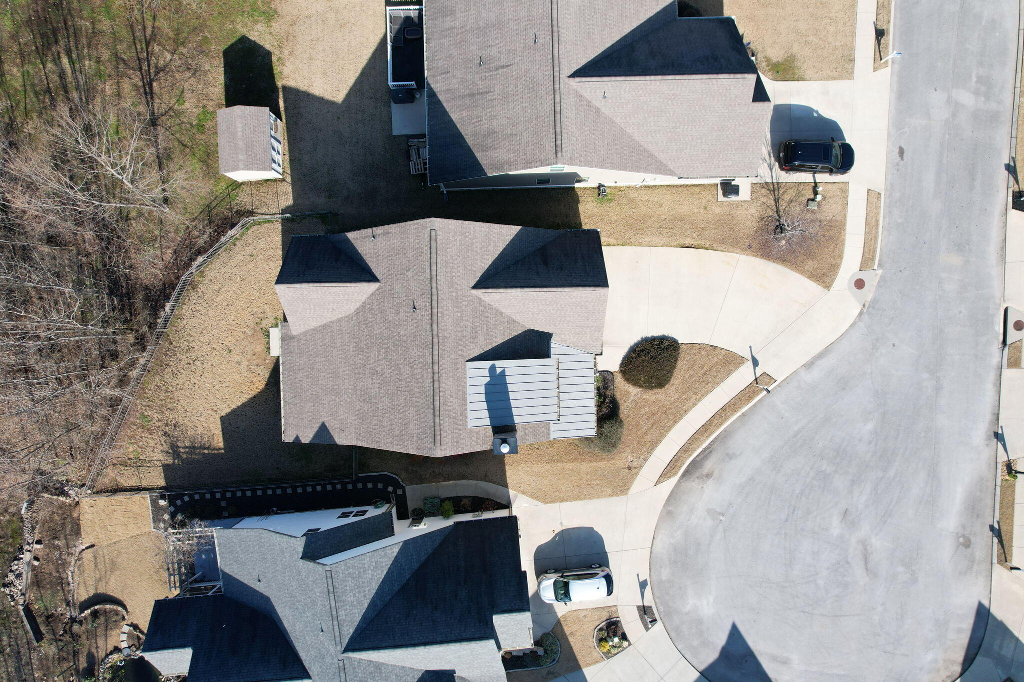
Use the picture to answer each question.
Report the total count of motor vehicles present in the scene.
2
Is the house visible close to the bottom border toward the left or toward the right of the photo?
left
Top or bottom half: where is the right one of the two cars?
top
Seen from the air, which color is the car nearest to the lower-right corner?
white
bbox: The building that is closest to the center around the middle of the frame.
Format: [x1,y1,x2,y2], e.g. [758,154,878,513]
[277,218,609,457]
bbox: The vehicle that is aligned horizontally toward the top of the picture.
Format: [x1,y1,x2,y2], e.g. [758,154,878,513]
[777,138,856,177]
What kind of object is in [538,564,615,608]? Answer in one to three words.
car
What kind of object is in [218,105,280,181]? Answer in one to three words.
shed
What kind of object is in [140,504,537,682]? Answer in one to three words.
house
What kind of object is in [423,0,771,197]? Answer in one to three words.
house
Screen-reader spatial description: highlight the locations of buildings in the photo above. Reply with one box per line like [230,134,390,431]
[140,504,537,682]
[218,105,280,181]
[423,0,771,197]
[277,218,609,457]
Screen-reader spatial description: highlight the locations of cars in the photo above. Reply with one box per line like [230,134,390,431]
[777,138,856,177]
[538,564,615,608]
